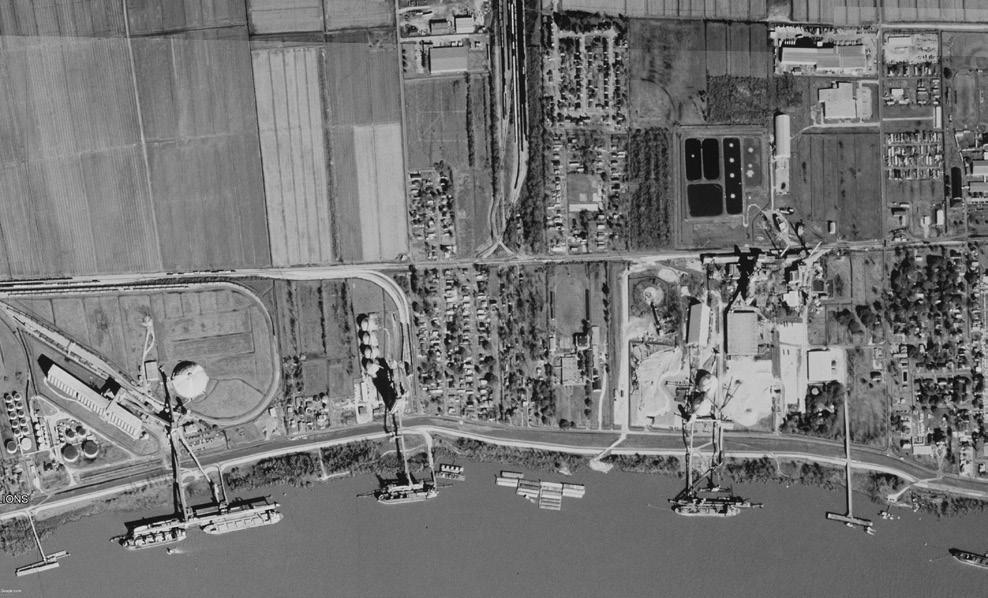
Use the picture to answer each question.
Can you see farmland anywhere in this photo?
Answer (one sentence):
Yes, there is farmland in the image.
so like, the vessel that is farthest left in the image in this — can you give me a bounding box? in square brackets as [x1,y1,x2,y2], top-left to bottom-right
[14,561,61,578]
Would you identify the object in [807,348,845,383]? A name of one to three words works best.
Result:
building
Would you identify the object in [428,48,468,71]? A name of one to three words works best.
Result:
barn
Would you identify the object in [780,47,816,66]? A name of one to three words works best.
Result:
building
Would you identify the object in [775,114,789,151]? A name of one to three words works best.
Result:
barn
